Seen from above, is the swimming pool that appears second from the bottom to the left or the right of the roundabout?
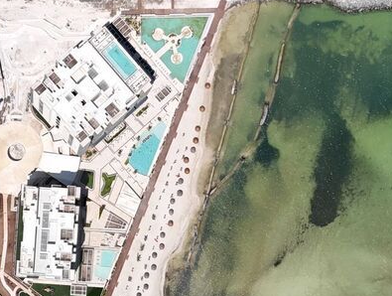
on the right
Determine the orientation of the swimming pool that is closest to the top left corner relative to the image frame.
at an angle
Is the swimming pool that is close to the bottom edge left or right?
left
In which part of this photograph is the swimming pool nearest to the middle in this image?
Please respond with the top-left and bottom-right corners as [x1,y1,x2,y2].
[127,120,169,176]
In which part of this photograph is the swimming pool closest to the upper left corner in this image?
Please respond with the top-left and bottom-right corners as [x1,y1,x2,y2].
[112,44,136,73]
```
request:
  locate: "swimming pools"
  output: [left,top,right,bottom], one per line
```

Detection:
[141,15,213,84]
[112,44,136,73]
[127,120,169,176]
[94,247,121,283]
